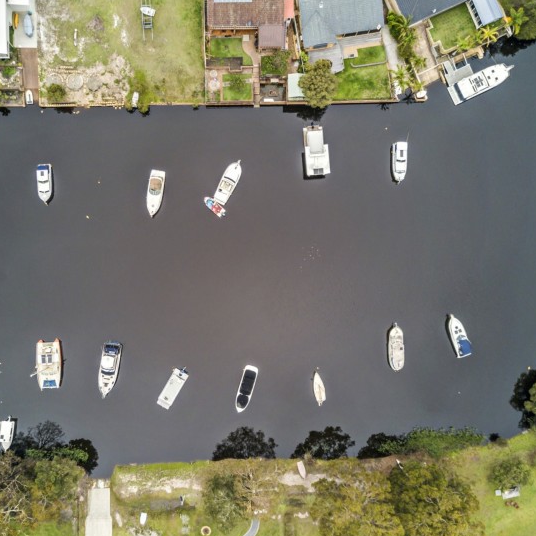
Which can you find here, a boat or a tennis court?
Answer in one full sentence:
Looking from above, you can make out a boat.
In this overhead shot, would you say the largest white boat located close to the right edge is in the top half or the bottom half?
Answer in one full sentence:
It is in the top half that the largest white boat located close to the right edge appears.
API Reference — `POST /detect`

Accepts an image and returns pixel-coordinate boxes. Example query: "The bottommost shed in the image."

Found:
[288,74,307,102]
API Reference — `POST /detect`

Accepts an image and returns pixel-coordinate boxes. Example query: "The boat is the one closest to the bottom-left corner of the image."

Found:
[0,420,16,452]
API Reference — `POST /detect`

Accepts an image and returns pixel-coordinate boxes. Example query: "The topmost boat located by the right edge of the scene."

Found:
[443,55,515,108]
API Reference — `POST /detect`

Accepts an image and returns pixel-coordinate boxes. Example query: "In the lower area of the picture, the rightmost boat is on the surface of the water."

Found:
[447,314,470,359]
